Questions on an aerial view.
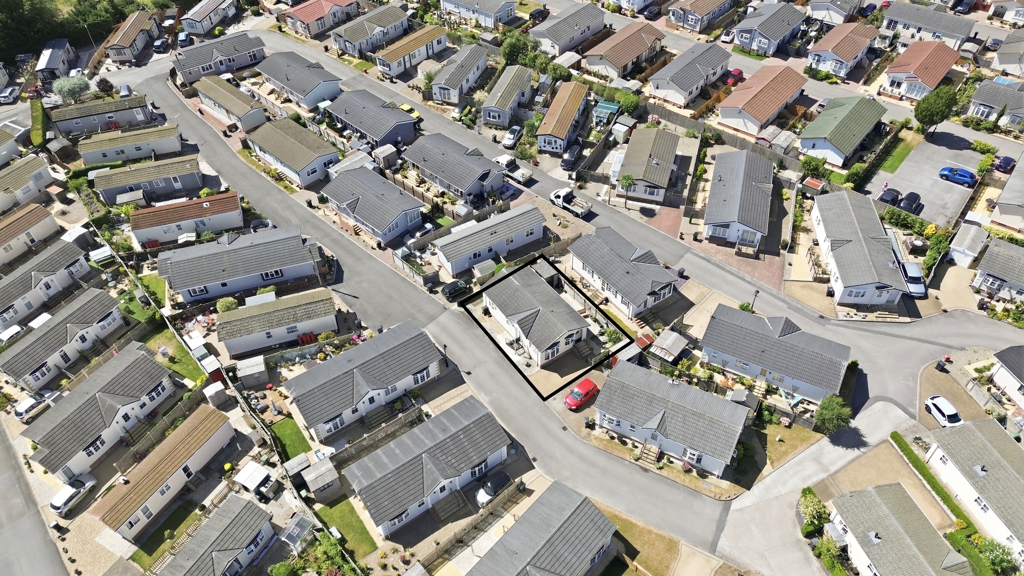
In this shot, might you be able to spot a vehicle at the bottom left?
Yes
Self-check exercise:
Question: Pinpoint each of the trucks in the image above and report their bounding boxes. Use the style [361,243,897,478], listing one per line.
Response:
[548,191,594,220]
[494,152,534,180]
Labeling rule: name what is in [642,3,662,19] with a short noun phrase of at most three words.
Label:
car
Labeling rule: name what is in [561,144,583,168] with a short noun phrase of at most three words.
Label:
car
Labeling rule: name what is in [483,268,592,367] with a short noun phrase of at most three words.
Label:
house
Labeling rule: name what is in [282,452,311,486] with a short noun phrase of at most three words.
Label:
shed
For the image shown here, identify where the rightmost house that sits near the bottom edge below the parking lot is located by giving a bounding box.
[924,415,1024,562]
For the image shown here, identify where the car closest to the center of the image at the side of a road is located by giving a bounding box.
[439,281,475,306]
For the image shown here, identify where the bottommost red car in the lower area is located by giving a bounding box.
[563,378,599,412]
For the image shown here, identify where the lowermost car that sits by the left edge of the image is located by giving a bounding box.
[48,476,98,517]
